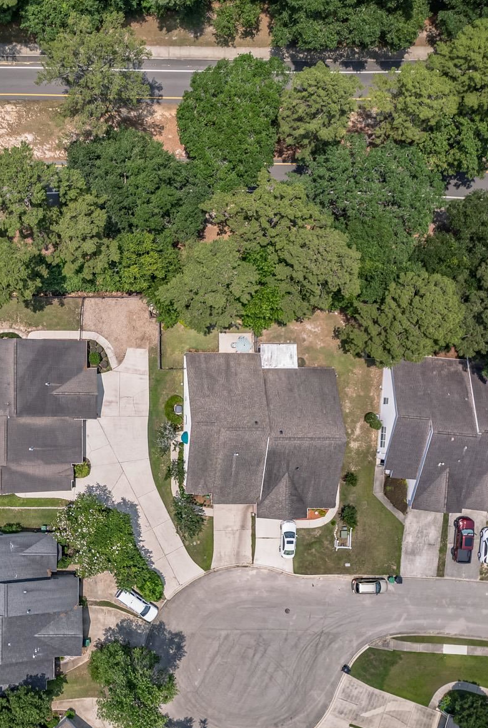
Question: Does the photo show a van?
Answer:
Yes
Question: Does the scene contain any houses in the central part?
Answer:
Yes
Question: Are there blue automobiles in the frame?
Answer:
No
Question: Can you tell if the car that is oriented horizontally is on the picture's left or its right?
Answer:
right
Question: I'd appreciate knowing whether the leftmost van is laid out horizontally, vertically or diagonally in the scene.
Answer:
diagonally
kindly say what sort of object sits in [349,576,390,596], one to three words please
car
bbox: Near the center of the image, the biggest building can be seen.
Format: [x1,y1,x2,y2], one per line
[184,343,346,520]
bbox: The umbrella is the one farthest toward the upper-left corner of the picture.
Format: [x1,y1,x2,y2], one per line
[234,335,252,352]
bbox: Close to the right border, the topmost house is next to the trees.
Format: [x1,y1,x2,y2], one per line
[375,356,488,513]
